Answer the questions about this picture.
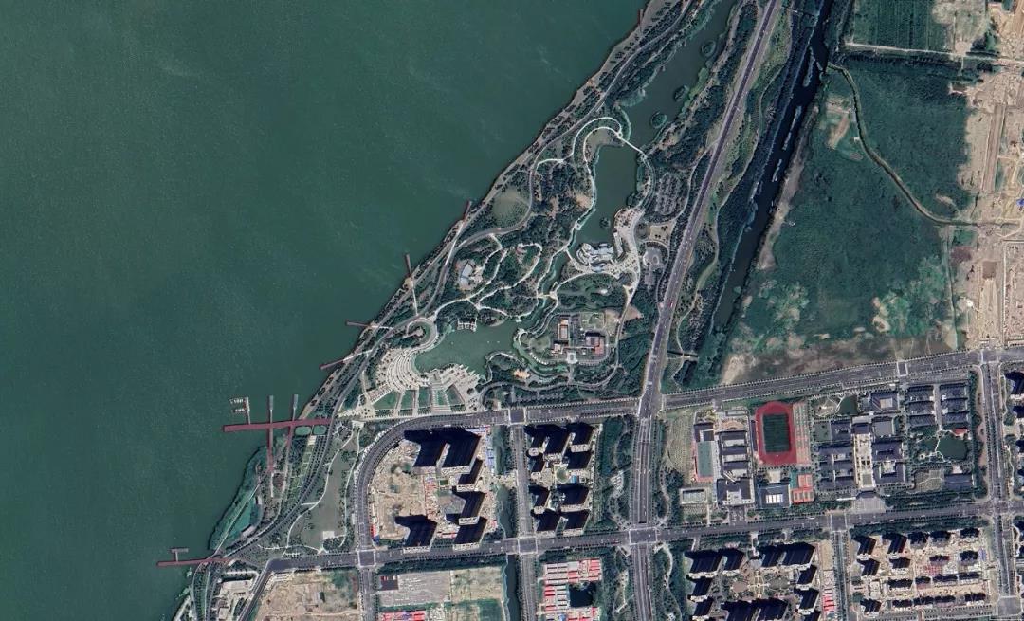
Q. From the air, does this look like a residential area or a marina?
marina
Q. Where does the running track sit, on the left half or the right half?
right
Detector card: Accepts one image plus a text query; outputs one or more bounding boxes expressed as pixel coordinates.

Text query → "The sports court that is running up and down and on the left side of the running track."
[697,442,713,478]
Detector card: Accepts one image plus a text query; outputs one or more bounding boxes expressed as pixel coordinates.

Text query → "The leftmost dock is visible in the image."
[158,548,232,566]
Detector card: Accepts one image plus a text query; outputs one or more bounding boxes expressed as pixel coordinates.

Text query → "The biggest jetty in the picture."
[223,394,334,473]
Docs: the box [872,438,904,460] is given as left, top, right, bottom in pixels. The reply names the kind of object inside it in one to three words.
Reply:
building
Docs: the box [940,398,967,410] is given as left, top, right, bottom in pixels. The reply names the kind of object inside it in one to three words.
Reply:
building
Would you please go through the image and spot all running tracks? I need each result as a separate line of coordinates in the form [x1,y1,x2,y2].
[756,401,796,466]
